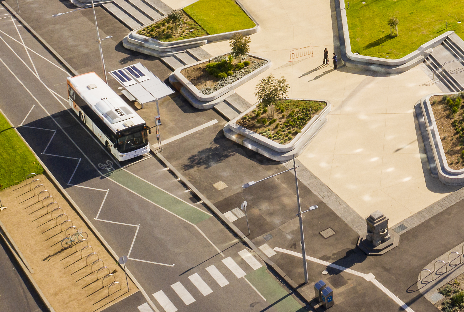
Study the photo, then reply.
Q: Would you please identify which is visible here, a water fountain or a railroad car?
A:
water fountain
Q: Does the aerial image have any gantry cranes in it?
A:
No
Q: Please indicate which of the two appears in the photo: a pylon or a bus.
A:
bus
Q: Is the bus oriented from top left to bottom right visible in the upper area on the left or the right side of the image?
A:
left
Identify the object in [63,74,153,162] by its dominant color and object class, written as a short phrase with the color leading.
white bus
